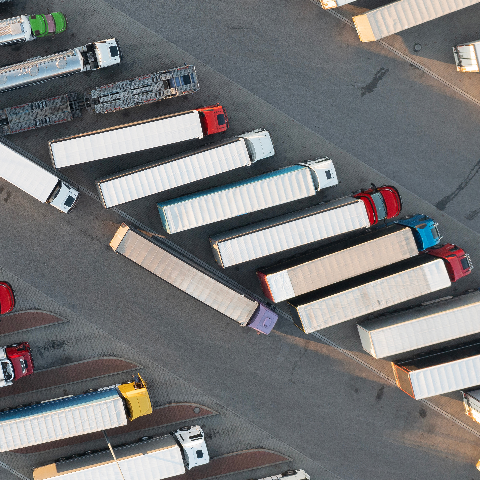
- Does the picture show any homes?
No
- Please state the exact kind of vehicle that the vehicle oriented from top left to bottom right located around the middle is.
truck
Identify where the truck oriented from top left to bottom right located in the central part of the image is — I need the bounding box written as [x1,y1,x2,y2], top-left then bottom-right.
[110,222,279,339]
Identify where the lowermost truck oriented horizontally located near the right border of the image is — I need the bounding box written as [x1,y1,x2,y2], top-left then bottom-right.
[390,339,480,399]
